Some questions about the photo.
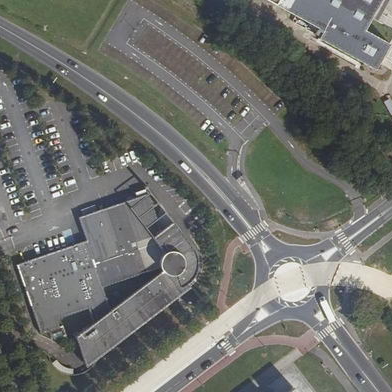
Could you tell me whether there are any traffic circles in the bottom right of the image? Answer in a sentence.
Yes, a traffic circle can be seen in the bottom right of the image.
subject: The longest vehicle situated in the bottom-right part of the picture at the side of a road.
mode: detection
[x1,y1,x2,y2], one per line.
[318,296,337,322]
